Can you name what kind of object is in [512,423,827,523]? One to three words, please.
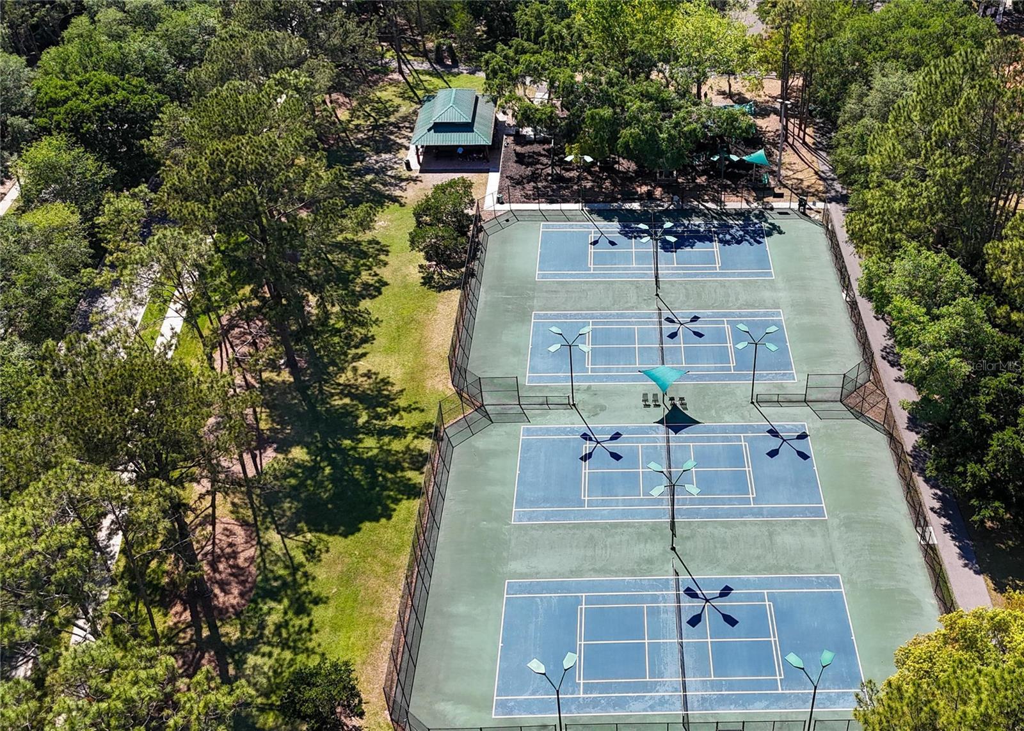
tennis court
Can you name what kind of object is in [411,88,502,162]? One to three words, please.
building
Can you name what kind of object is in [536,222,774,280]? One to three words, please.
tennis court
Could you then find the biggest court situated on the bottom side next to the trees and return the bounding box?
[493,575,870,718]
